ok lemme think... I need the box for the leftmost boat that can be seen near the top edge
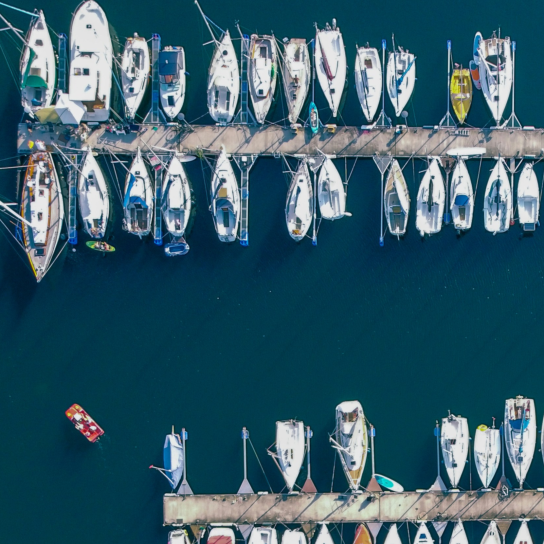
[0,7,61,123]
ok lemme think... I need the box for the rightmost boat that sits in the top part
[512,160,542,231]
